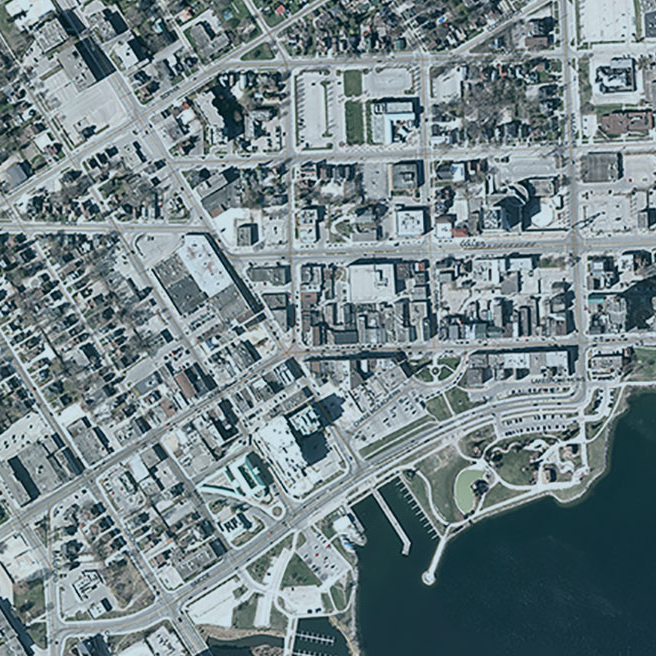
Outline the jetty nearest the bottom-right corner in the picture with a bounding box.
[422,524,450,583]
